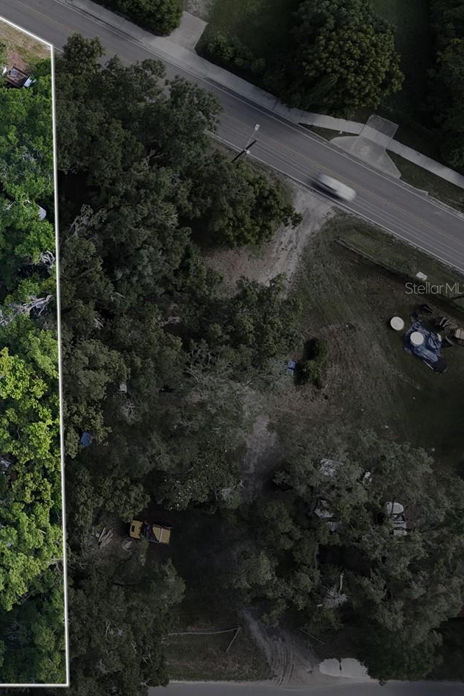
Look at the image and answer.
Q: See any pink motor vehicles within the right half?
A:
No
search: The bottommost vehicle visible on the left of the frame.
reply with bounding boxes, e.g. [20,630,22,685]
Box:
[131,518,172,544]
